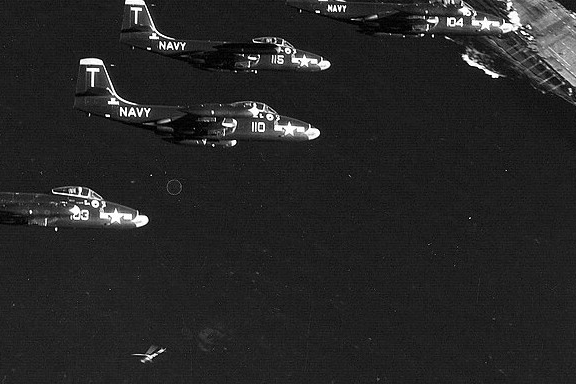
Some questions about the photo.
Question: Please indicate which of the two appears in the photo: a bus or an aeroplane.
aeroplane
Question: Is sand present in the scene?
No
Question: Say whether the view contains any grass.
No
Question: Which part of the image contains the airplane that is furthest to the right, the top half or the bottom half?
top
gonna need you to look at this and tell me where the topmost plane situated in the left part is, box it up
[119,0,331,74]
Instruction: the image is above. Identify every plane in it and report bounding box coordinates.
[119,0,331,74]
[287,0,515,40]
[0,186,149,231]
[73,58,319,148]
